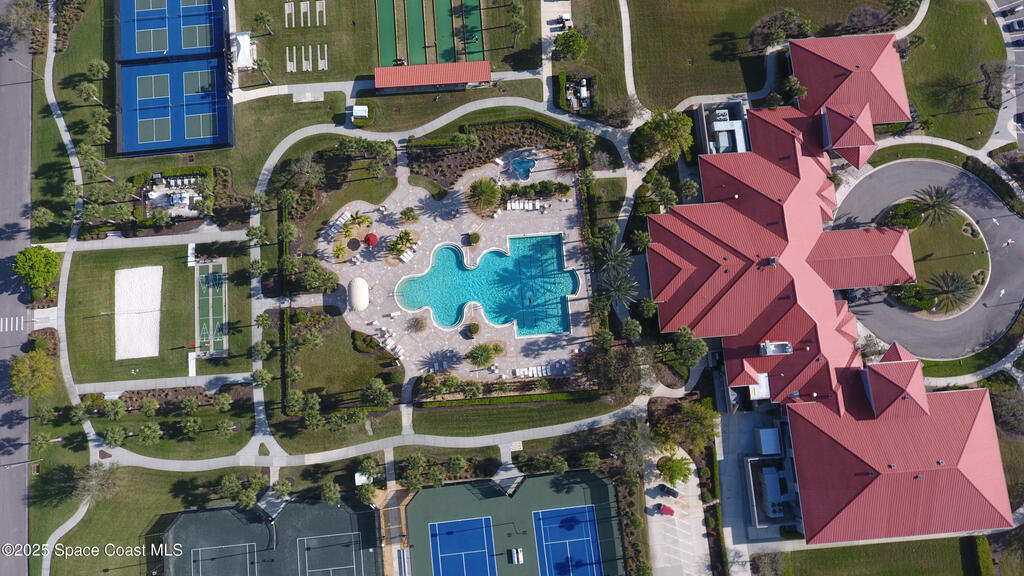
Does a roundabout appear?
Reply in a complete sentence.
Yes, there's a roundabout here.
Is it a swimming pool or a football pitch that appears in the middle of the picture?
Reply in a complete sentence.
The one visible in the middle of the picture is a swimming pool.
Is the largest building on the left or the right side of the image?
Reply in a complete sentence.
It is on the right.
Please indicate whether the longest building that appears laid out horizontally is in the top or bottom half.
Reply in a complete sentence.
You can find the longest building that appears laid out horizontally in the top half.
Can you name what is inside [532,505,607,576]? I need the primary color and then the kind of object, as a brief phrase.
blue tennis court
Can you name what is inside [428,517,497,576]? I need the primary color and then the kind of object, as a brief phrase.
blue tennis court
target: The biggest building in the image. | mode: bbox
[646,32,1013,545]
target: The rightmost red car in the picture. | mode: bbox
[656,501,677,516]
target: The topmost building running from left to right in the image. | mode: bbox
[375,61,493,97]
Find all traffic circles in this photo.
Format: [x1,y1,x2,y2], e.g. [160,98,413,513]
[870,197,992,322]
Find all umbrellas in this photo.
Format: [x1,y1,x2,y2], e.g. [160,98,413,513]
[148,189,160,199]
[365,234,378,247]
